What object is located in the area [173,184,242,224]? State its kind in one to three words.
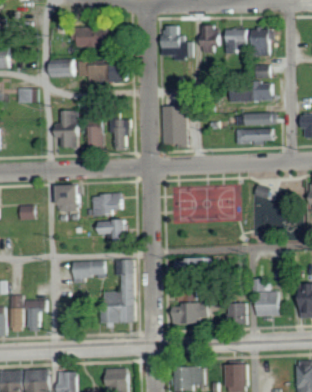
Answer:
basketball court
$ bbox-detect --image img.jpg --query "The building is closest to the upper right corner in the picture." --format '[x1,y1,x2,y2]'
[248,28,272,56]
